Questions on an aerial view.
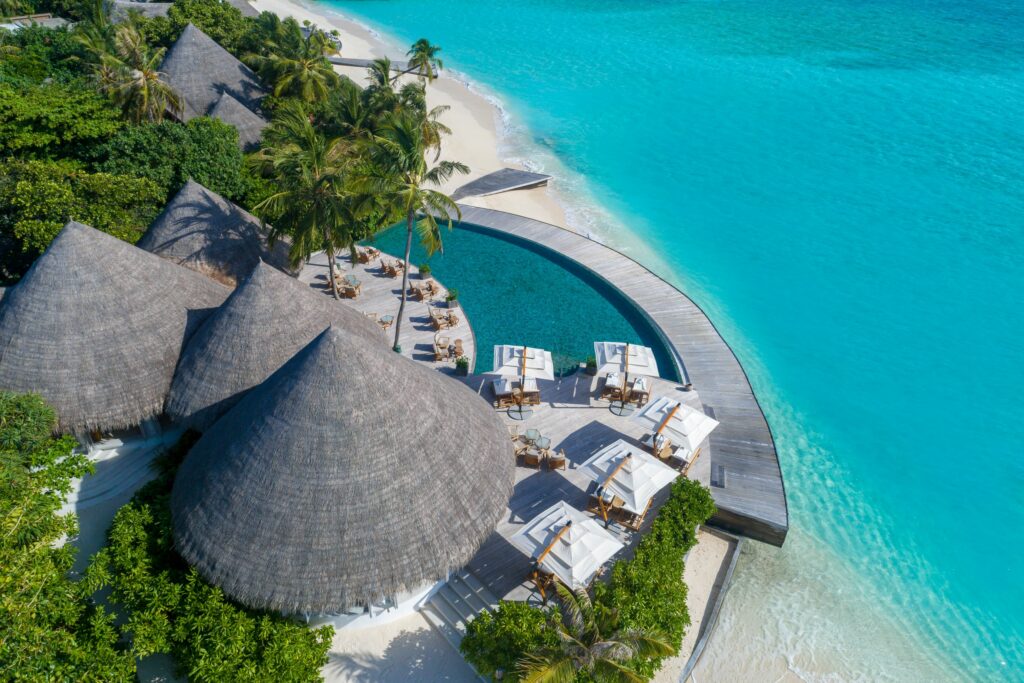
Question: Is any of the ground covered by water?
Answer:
Yes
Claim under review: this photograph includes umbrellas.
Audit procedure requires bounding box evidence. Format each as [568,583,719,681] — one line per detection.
[512,499,621,616]
[594,343,659,421]
[487,346,556,424]
[636,394,719,470]
[579,437,680,539]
